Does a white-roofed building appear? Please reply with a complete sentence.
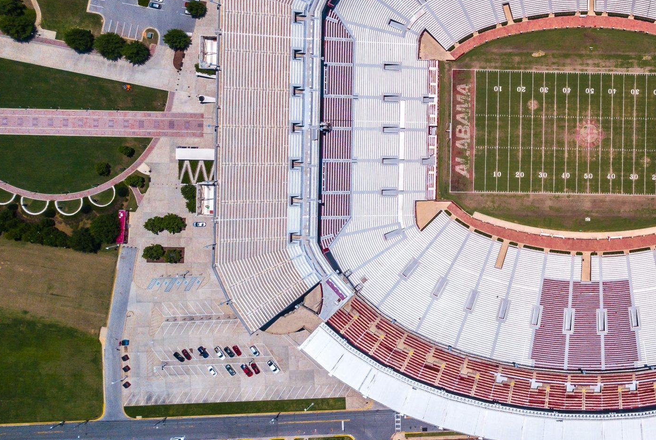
Yes, a white-roofed building is visible in the scene.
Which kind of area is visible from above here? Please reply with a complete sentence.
The area seen from above is a sports ground.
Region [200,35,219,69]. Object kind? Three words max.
building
